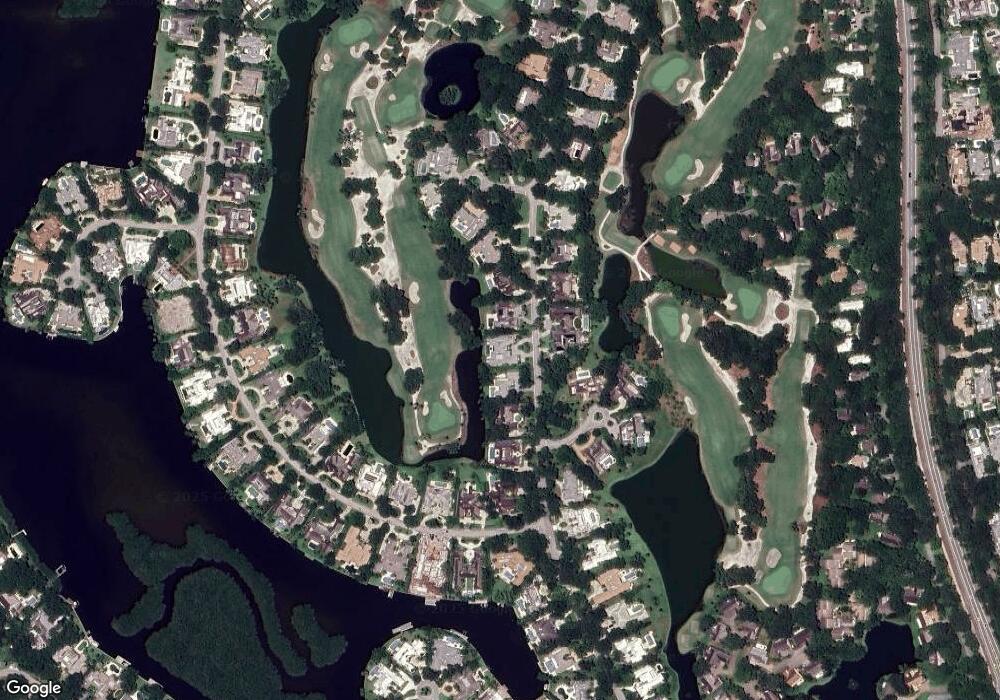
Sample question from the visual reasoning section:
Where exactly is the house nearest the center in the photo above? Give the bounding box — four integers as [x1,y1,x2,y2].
[481,332,521,366]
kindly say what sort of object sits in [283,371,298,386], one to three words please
swimming pool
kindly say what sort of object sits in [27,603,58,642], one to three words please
house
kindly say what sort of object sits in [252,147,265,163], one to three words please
swimming pool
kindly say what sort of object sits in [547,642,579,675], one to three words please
house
